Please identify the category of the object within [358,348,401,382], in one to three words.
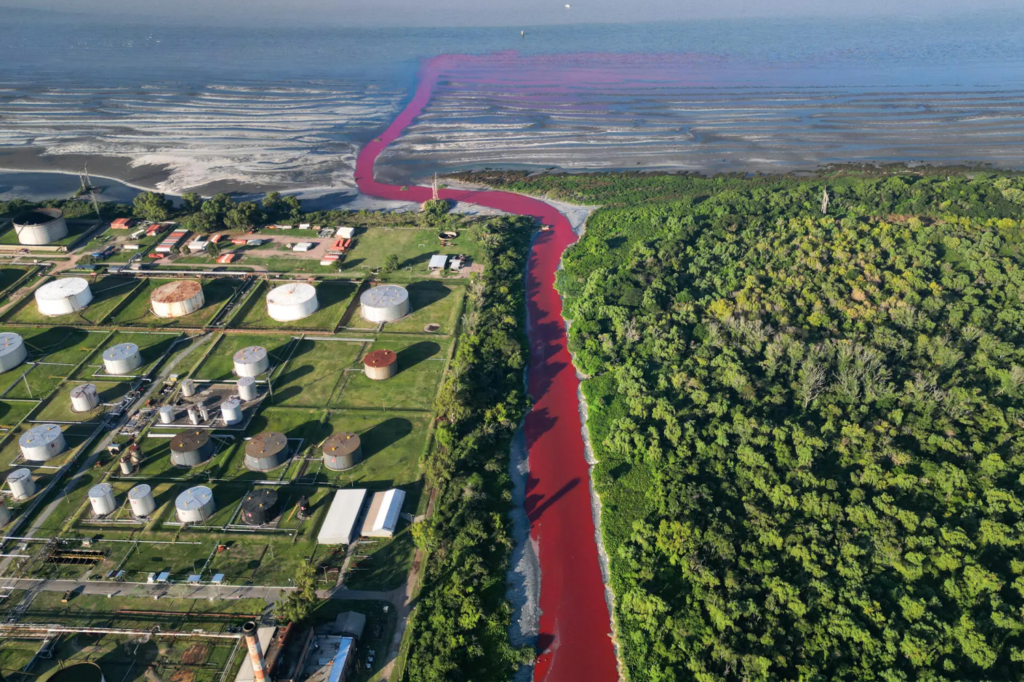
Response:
storage tank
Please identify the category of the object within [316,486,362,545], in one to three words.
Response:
building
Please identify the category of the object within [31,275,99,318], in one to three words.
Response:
storage tank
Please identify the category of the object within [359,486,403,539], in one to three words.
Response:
shed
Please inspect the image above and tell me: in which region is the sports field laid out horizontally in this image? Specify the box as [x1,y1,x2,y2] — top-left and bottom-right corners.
[340,227,482,272]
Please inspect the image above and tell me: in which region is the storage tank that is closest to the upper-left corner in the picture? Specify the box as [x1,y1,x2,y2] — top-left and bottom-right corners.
[9,206,74,245]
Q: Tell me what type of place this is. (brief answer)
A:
industrial area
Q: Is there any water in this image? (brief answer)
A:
Yes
